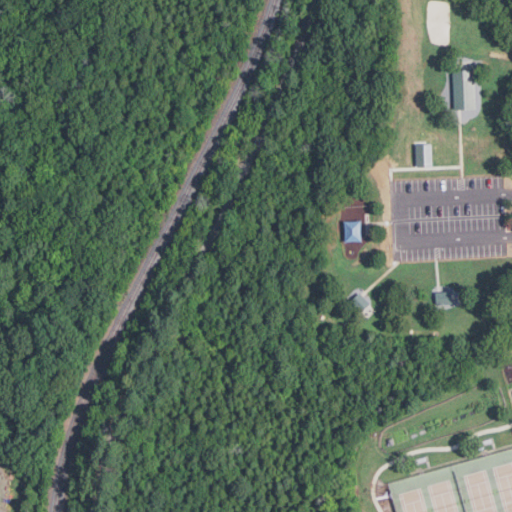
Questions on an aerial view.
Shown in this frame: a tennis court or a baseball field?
tennis court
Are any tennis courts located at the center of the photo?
No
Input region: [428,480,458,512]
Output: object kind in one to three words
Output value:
tennis court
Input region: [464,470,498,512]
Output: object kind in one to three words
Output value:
tennis court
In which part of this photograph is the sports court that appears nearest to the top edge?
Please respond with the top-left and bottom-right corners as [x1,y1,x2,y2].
[427,0,450,47]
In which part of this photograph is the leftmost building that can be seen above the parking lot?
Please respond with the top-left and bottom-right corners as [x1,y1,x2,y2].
[416,144,432,168]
